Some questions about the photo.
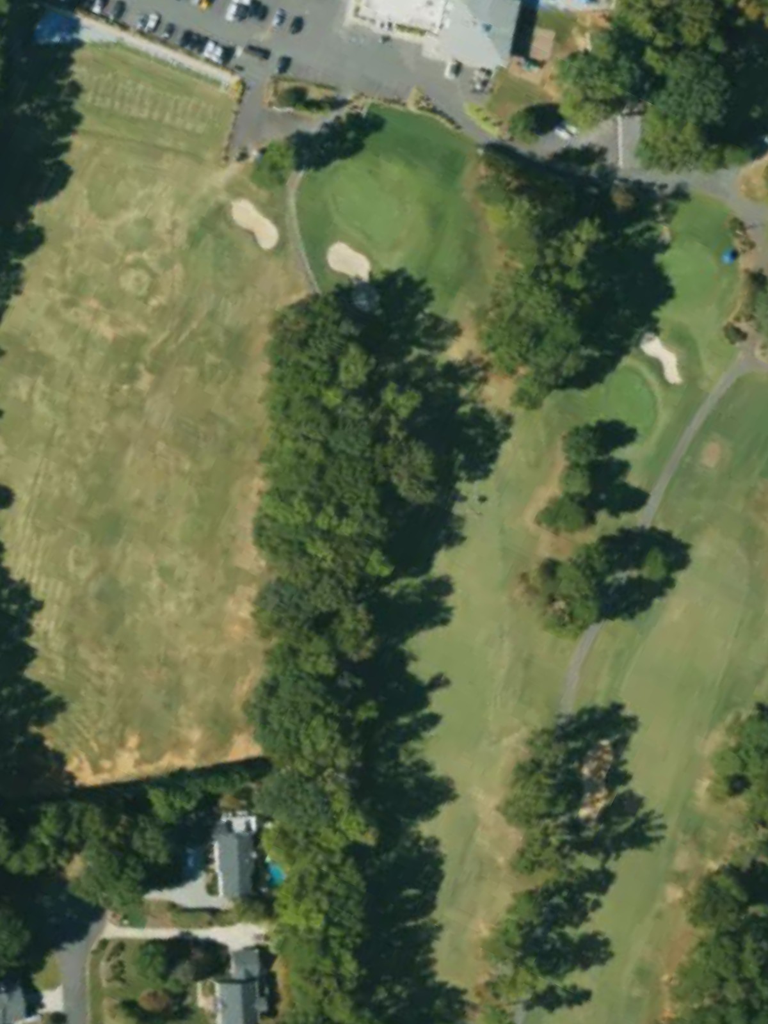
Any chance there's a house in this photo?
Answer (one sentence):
Yes, there is a house in the image.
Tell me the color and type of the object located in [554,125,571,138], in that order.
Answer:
white vehicle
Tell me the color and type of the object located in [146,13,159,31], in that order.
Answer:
white vehicle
